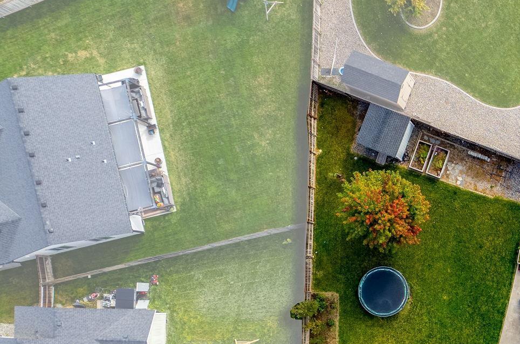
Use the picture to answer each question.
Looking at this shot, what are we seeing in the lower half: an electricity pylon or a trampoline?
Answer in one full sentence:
What appears in the lower half is a trampoline.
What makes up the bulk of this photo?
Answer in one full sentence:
For the most part, this view shows grass.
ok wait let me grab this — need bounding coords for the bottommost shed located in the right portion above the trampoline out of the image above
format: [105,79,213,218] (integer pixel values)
[357,104,415,163]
